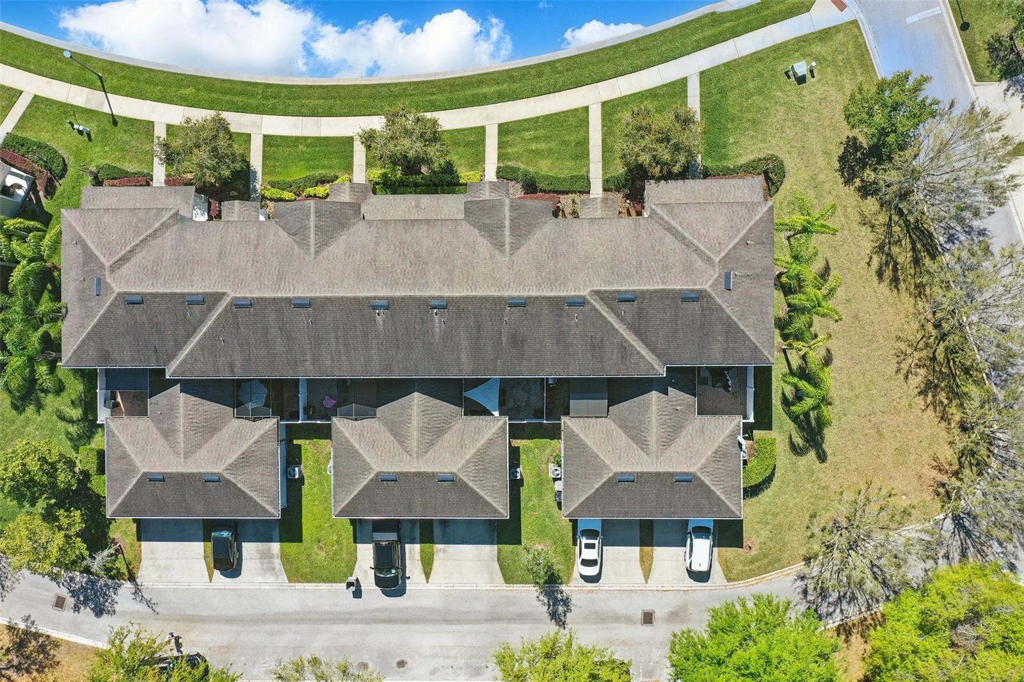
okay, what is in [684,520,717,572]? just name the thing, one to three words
car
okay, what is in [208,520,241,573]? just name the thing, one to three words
car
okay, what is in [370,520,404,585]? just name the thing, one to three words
truck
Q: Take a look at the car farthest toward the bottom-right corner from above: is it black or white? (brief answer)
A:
white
